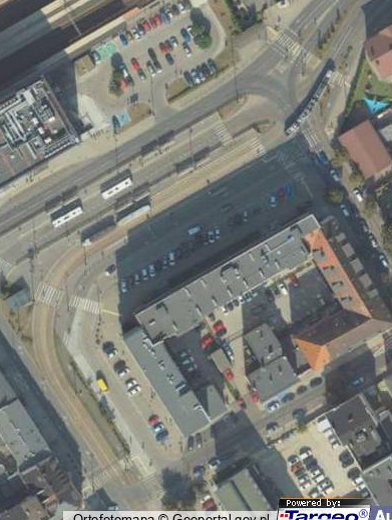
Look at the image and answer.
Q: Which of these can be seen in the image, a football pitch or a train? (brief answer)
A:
train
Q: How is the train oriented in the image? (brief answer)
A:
diagonally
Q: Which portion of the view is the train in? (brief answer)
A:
top right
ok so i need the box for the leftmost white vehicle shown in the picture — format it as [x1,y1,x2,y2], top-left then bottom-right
[53,206,83,226]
